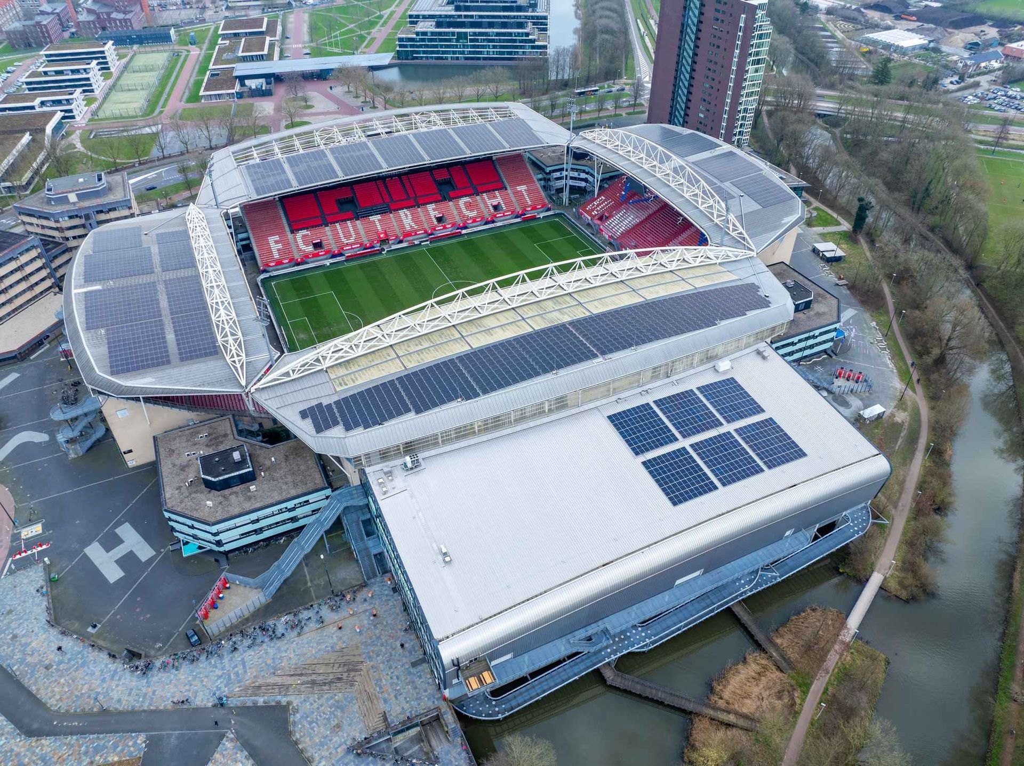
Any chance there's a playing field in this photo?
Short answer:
Yes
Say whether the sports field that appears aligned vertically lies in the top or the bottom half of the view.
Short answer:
top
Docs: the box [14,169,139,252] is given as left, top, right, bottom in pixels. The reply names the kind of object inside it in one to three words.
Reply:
building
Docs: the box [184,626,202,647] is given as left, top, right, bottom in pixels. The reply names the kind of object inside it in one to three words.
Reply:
car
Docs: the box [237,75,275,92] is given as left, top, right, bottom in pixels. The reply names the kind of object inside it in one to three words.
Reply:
building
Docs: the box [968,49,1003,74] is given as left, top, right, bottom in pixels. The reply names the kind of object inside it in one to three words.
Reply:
house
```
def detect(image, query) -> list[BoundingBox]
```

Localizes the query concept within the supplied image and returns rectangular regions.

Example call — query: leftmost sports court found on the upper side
[98,51,172,117]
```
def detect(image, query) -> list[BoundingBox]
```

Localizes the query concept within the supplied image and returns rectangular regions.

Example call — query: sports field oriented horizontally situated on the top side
[272,219,602,342]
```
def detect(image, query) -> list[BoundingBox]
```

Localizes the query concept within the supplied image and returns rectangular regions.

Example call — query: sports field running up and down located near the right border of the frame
[976,144,1024,279]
